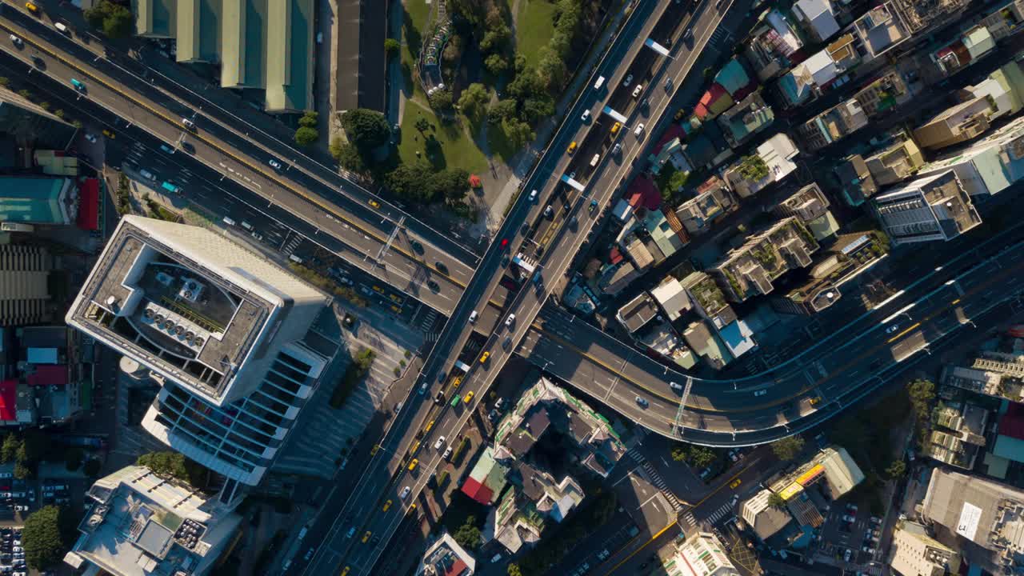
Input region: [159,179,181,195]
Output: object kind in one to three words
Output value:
vehicle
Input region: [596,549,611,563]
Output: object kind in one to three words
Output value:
vehicle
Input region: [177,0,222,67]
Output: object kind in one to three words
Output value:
shed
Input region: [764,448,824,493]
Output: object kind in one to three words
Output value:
building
